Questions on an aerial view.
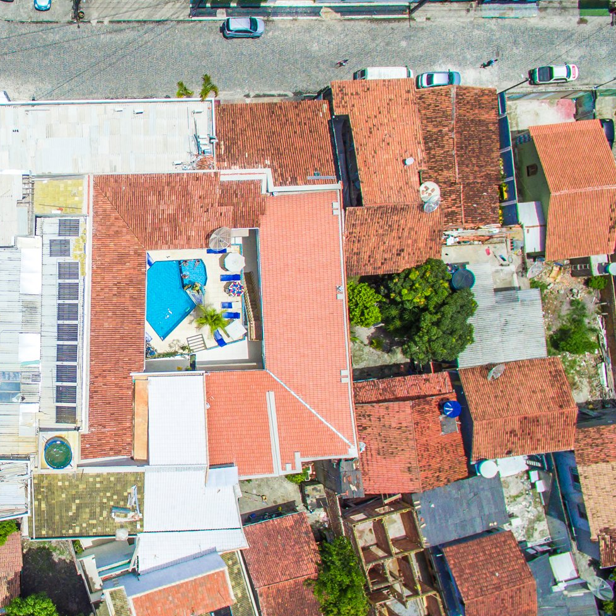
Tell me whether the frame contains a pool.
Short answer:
Yes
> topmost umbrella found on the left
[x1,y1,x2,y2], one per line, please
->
[222,252,244,273]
